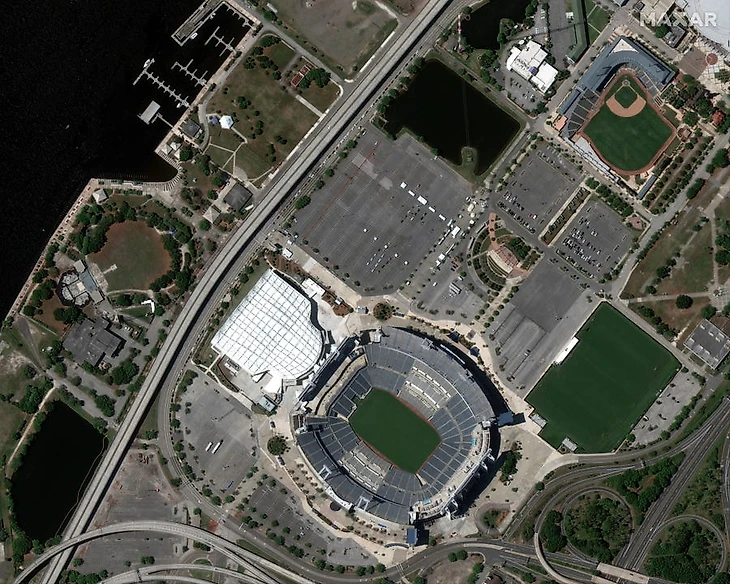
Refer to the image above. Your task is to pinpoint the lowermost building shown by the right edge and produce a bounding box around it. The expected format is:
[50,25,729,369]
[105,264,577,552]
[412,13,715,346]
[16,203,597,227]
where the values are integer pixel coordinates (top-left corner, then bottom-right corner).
[684,319,730,370]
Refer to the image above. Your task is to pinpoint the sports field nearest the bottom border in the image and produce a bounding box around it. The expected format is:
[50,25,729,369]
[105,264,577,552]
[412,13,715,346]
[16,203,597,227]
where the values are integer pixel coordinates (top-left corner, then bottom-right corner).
[349,387,441,474]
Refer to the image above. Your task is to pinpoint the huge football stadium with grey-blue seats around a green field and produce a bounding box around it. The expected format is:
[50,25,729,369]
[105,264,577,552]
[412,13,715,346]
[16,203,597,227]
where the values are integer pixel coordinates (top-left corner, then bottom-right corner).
[295,326,496,528]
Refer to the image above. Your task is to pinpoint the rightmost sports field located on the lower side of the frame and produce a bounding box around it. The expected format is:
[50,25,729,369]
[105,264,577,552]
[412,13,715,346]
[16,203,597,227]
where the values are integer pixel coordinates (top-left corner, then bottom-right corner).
[525,300,682,455]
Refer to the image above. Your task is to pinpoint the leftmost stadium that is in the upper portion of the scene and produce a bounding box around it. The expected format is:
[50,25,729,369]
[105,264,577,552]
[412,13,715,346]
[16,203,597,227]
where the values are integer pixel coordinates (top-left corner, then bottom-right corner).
[552,36,678,195]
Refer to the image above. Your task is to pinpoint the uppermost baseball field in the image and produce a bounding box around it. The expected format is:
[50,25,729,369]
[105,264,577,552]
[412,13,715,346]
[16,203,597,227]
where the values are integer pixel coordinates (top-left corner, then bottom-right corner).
[579,71,677,174]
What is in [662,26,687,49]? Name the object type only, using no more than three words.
building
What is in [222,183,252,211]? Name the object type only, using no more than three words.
building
